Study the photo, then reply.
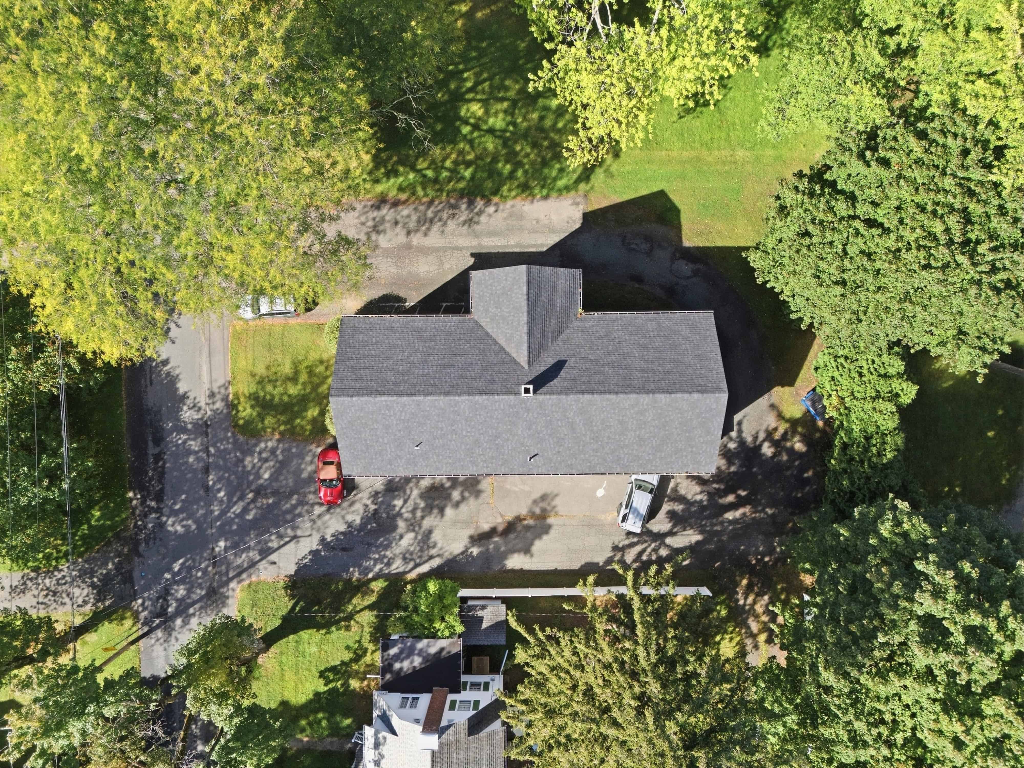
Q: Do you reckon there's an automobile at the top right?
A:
No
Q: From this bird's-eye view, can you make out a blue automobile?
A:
No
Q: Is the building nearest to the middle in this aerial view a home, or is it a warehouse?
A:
home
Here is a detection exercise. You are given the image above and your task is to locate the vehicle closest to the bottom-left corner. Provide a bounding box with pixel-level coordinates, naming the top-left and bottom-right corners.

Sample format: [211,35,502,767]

[316,448,346,503]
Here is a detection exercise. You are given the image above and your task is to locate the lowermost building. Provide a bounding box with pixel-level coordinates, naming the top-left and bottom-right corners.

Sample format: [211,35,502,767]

[357,625,511,768]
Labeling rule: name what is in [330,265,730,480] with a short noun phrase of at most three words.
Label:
house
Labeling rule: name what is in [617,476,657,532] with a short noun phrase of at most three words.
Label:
car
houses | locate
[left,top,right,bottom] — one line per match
[357,625,511,768]
[330,265,730,480]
